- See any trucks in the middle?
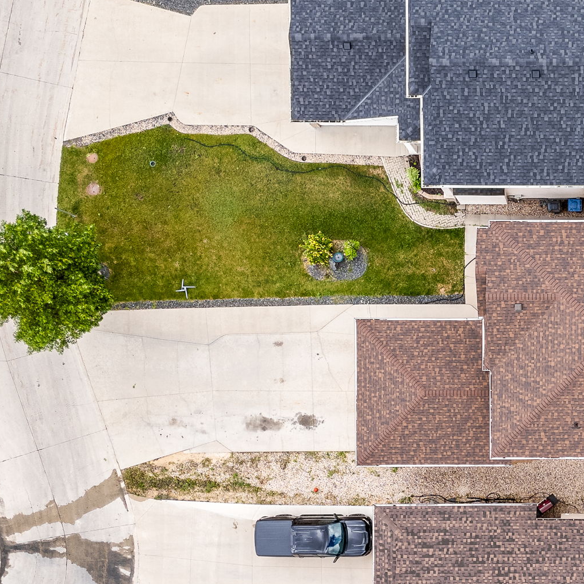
No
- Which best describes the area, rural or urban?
urban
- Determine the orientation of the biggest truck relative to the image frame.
from side to side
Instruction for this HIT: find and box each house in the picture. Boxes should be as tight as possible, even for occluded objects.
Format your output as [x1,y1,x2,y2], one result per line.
[281,0,584,209]
[355,218,584,467]
[372,504,584,584]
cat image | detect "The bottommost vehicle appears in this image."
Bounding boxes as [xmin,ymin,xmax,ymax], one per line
[255,513,372,563]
